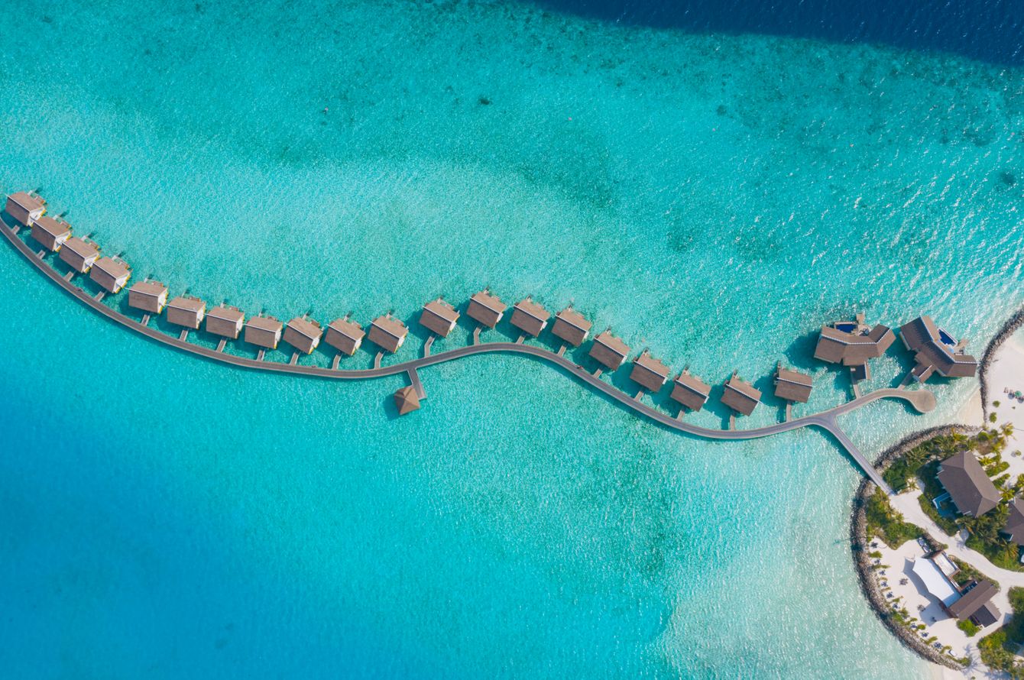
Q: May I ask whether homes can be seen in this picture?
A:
Yes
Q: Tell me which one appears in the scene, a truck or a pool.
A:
pool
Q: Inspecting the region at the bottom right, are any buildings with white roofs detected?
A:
Yes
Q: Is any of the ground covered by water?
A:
Yes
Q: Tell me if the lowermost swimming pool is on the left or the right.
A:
right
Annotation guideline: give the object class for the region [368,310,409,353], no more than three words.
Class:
house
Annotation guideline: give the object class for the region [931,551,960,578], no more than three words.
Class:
building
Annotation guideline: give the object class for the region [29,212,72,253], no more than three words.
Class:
house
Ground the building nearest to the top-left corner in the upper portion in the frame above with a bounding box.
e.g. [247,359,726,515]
[5,189,49,227]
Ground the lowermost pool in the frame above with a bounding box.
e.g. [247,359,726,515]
[935,493,964,519]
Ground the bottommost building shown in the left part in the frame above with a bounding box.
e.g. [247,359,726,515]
[394,387,420,415]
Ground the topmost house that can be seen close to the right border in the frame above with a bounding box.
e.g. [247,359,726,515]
[935,451,1001,517]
